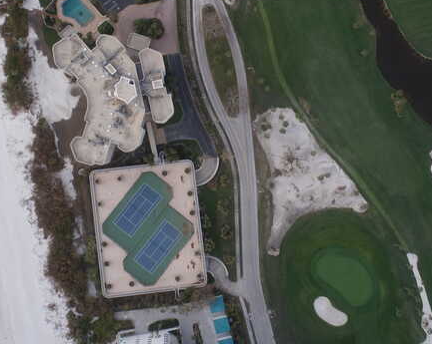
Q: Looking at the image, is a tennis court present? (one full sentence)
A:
Yes, there is a tennis court in the image.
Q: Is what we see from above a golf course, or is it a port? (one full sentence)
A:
It's a golf course.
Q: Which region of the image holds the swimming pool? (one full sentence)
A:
The swimming pool is located in the top left region of the scene.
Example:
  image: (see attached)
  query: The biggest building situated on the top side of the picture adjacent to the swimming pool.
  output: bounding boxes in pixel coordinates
[53,33,148,164]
